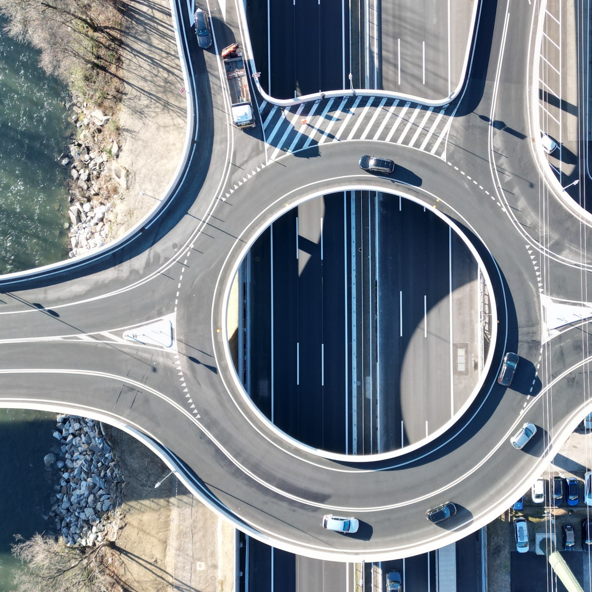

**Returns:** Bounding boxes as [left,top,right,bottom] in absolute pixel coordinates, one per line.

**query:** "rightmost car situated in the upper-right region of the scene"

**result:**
[541,128,558,156]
